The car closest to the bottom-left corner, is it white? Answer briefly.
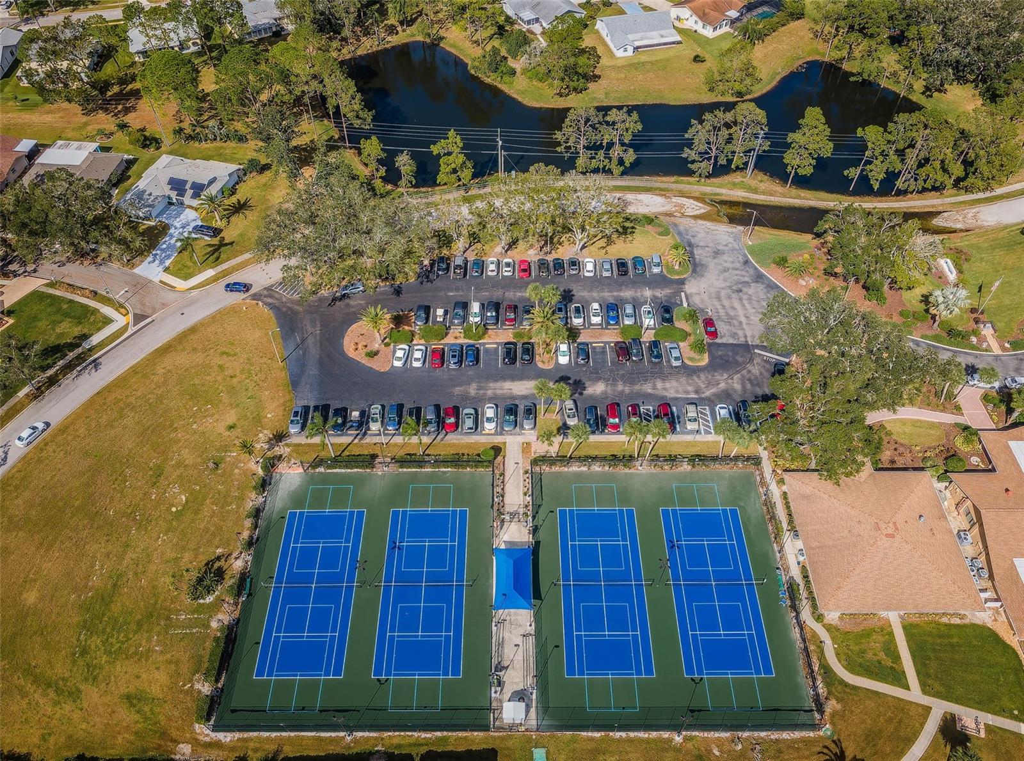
Yes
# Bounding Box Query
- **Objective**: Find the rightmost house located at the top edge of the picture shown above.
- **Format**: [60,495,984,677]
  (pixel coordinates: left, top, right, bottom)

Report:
[671,0,746,37]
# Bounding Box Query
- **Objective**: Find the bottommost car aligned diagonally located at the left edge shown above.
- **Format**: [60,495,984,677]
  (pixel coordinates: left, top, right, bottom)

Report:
[15,422,49,448]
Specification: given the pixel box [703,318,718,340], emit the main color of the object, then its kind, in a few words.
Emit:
red car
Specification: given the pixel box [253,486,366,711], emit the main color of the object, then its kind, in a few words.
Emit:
blue tennis court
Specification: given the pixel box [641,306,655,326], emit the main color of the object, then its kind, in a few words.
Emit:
white car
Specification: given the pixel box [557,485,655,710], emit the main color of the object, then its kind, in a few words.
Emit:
blue tennis court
